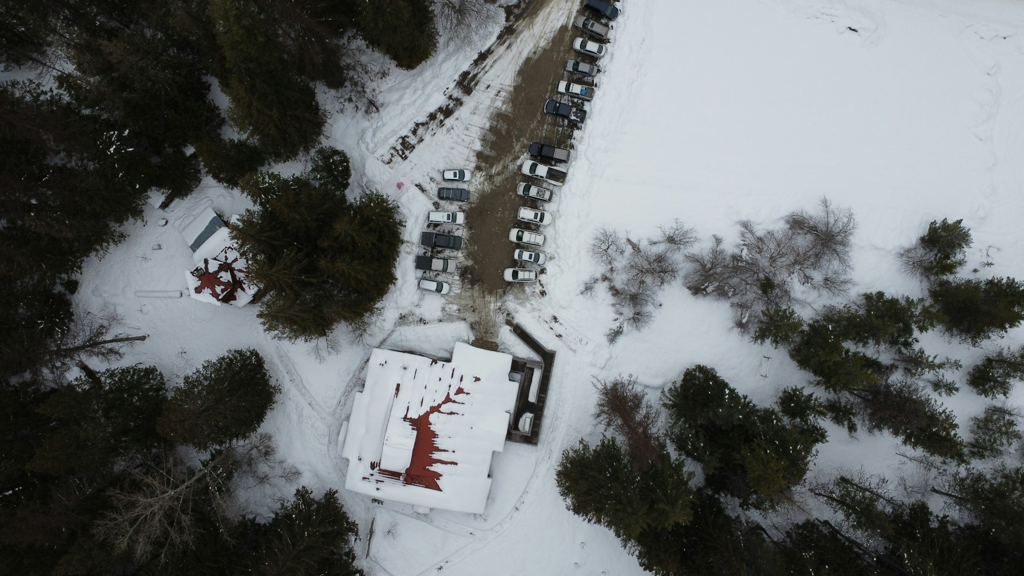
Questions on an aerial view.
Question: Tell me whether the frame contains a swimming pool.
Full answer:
No, no swimming pool is visible in the scene.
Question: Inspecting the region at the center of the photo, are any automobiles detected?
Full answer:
Yes, an automobile can be seen at the center of the photo.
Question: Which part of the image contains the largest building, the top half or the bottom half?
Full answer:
You can find the largest building in the bottom half.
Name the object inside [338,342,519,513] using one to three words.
building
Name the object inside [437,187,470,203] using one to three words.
car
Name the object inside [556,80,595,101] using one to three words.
truck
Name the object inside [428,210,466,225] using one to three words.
vehicle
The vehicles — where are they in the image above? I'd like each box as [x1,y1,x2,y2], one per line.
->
[516,206,553,226]
[503,267,538,283]
[571,38,607,60]
[513,248,547,264]
[508,228,547,247]
[527,142,571,164]
[415,256,459,274]
[418,278,452,295]
[437,187,470,203]
[428,210,466,225]
[421,232,463,250]
[442,168,473,183]
[543,100,587,124]
[582,0,618,22]
[556,80,595,101]
[573,16,609,41]
[521,161,568,186]
[516,183,553,203]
